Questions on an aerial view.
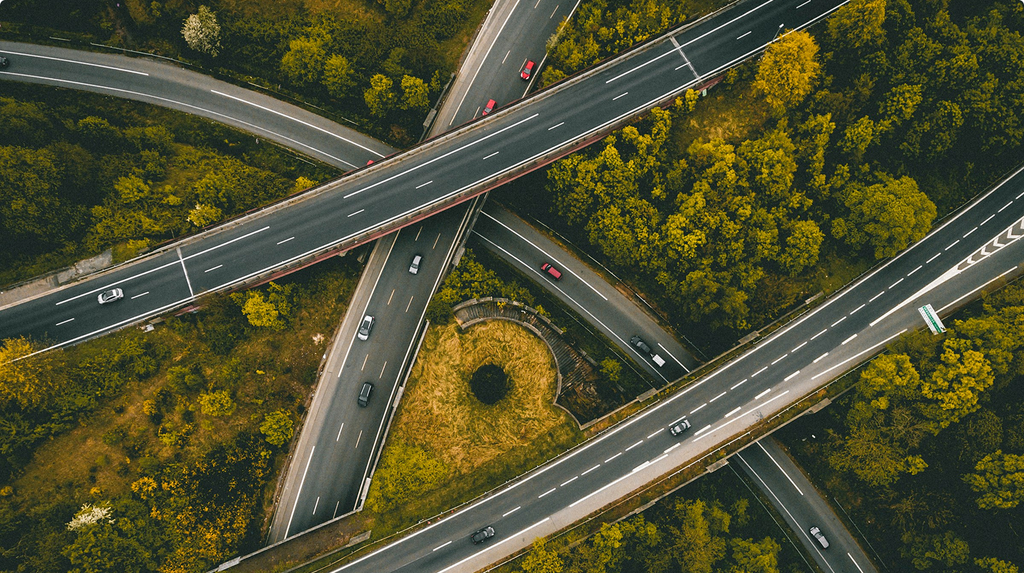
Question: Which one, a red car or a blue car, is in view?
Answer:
red car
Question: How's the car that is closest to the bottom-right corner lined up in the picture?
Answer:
diagonally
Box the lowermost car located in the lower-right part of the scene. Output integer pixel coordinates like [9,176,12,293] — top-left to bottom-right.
[808,525,832,552]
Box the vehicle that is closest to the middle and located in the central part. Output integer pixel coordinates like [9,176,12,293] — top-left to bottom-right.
[540,262,564,282]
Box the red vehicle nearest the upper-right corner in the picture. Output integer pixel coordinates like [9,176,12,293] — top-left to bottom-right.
[520,59,536,80]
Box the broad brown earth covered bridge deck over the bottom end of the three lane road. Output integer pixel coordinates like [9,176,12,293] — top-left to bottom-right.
[203,507,418,573]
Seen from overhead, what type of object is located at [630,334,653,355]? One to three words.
car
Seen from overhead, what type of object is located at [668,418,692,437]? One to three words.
car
